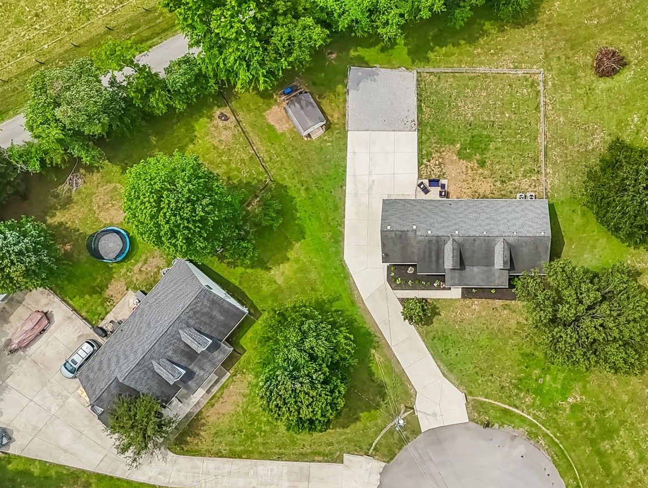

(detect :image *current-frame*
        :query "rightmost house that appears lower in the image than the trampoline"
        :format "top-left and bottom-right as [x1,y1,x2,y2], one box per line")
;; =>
[78,255,251,420]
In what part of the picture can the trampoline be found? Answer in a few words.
left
